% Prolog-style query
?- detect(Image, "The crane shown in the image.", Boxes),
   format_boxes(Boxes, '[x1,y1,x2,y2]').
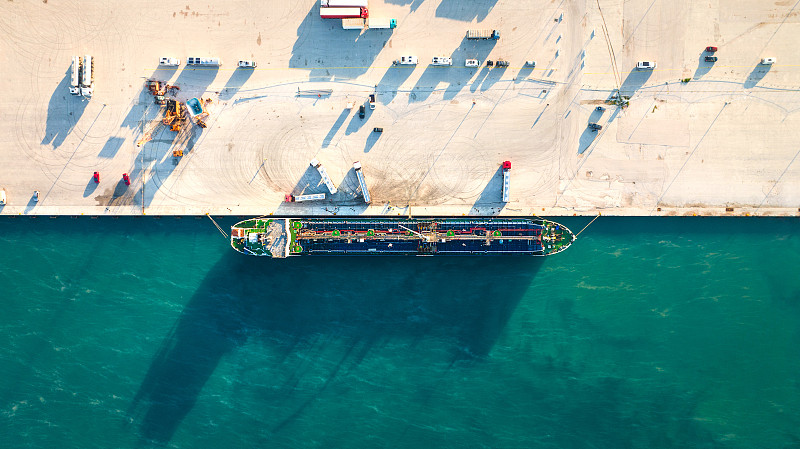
[135,98,190,147]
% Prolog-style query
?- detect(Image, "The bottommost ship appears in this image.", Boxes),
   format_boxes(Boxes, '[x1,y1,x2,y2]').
[229,218,577,257]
